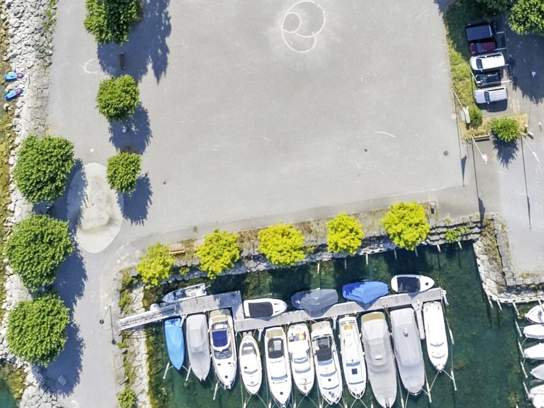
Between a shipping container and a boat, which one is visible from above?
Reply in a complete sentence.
It is a boat that can be seen here.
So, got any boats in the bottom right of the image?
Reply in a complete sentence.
Yes, a boat appears in the bottom right of the image.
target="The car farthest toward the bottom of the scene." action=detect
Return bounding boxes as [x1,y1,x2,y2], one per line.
[473,86,509,105]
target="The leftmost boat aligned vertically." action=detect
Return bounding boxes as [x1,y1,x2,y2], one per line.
[161,315,185,370]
